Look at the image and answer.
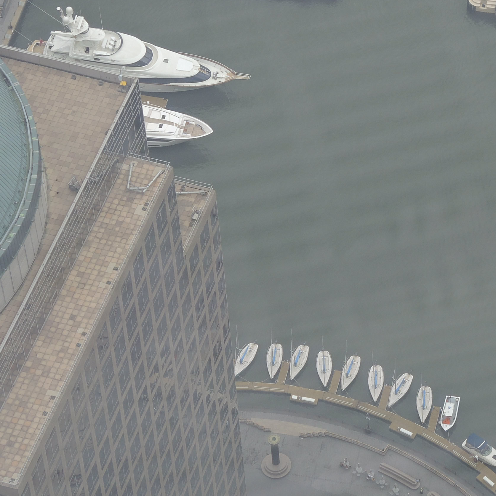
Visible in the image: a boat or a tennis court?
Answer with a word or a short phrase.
boat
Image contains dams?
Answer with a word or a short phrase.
No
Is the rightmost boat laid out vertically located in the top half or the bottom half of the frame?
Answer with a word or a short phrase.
bottom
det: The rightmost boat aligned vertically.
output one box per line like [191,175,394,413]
[439,396,459,433]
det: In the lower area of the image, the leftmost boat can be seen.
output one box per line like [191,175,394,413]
[235,333,257,377]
